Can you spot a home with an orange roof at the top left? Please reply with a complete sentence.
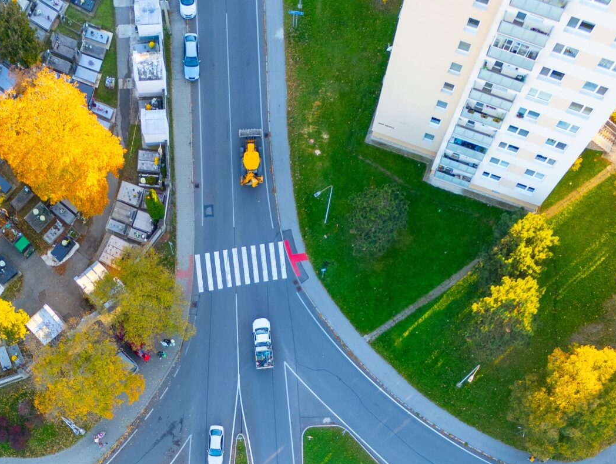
No, I can find no home with an orange roof at the top left.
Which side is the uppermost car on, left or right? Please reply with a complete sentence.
It is on the left.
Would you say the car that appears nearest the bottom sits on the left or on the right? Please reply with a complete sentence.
You can find the car that appears nearest the bottom on the left side of the picture.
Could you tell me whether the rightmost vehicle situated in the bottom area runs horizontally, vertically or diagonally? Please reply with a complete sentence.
Seen from above, the rightmost vehicle situated in the bottom area lies vertically.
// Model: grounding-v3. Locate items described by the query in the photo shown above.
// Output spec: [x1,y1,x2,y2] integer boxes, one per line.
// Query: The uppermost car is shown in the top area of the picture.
[177,0,198,24]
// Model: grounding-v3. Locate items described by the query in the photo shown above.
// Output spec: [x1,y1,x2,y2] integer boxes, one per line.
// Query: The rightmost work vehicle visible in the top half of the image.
[239,130,262,188]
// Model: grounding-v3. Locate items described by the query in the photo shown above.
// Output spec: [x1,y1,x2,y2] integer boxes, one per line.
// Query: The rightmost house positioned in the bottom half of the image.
[74,261,108,300]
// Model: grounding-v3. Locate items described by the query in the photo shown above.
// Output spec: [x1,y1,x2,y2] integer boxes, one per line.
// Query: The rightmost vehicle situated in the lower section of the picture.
[251,319,272,369]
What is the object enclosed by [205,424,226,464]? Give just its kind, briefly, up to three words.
car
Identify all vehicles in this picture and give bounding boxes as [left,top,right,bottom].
[251,319,272,369]
[177,0,198,24]
[181,35,202,82]
[239,130,262,188]
[205,424,226,464]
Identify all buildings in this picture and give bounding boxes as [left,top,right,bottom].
[74,261,108,300]
[134,52,165,96]
[134,0,162,42]
[361,0,616,220]
[141,109,169,145]
[26,306,64,349]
